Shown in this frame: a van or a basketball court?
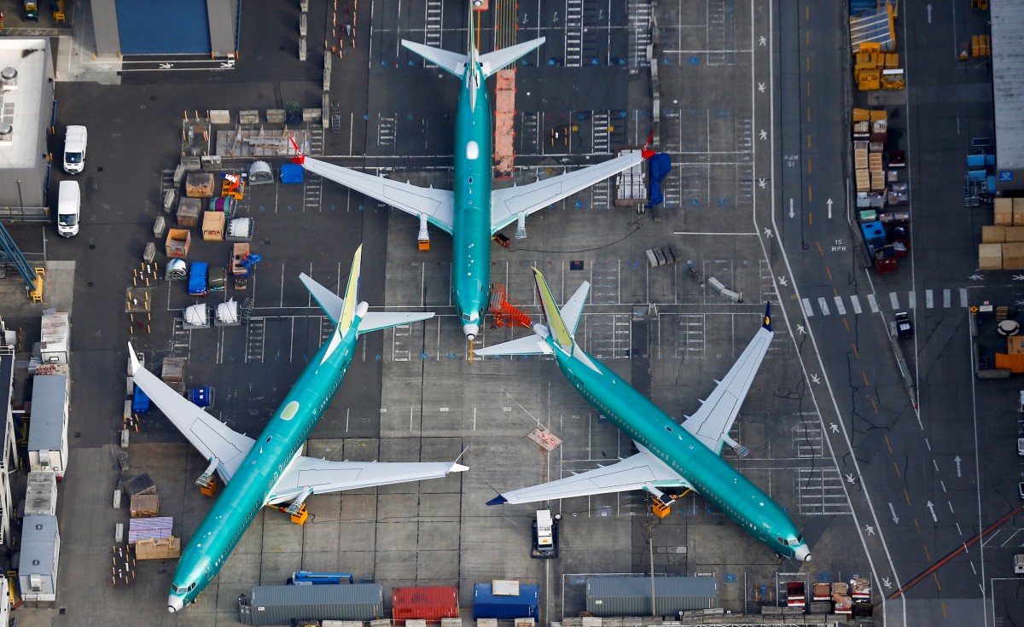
van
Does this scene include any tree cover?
No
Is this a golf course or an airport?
airport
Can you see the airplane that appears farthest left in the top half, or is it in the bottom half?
bottom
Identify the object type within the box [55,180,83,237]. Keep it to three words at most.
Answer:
van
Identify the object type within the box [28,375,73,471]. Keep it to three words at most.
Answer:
building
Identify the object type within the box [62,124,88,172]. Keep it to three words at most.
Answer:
vehicle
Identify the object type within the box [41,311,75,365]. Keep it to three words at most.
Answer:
building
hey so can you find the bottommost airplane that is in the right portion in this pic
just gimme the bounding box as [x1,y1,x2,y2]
[468,265,813,561]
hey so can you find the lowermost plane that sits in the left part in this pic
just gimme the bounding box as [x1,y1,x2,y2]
[126,248,468,611]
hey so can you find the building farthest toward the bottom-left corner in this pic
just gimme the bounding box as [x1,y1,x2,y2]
[19,516,63,599]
